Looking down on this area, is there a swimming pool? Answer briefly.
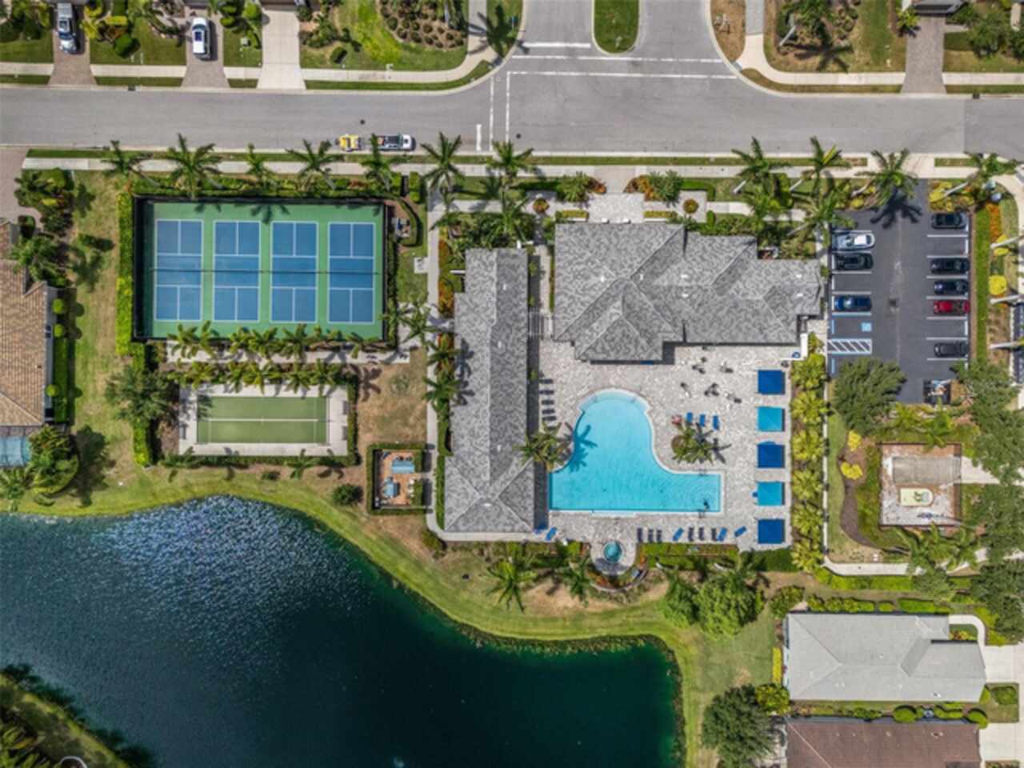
Yes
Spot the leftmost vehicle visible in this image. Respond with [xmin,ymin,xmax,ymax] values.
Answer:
[57,3,80,52]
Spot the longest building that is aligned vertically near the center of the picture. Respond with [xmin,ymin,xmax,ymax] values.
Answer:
[444,246,535,532]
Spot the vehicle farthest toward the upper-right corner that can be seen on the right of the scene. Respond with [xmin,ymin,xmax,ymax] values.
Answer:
[928,212,963,229]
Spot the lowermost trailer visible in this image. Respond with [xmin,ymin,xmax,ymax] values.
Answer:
[926,377,955,405]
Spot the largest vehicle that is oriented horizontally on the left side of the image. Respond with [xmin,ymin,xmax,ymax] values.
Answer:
[371,132,415,152]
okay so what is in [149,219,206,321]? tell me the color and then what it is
blue sports court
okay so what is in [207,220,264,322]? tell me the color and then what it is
blue sports court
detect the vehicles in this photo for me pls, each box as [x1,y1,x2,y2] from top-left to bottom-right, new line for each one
[928,257,966,275]
[833,253,872,271]
[833,232,874,250]
[371,132,415,152]
[928,212,963,229]
[932,299,968,316]
[932,341,966,358]
[832,295,871,313]
[931,279,966,296]
[57,3,80,52]
[191,20,211,59]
